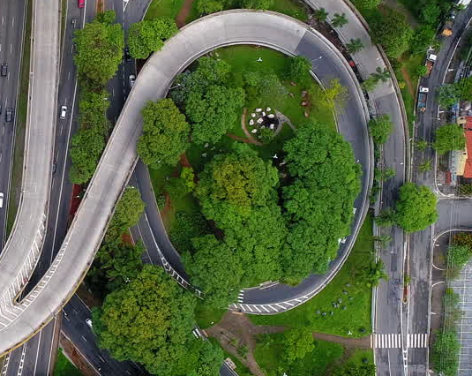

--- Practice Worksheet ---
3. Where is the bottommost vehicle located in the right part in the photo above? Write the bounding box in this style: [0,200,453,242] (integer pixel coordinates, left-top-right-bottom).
[417,84,430,114]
